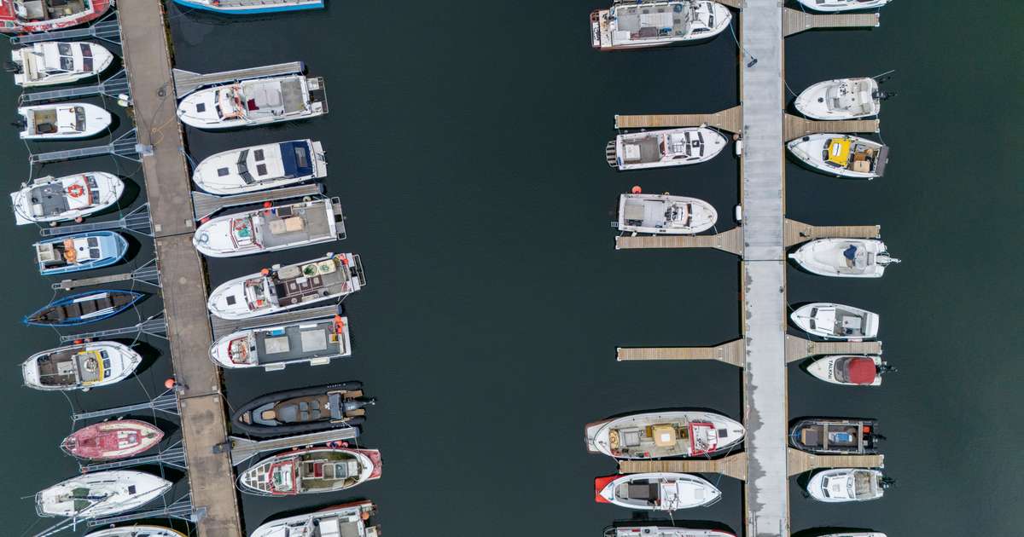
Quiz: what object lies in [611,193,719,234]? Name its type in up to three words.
boat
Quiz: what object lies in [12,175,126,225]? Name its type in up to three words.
boat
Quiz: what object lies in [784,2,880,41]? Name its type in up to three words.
pier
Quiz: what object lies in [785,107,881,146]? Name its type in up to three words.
pier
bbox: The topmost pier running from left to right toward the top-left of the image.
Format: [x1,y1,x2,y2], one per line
[10,10,122,44]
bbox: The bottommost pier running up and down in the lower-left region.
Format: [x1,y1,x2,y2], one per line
[176,392,242,537]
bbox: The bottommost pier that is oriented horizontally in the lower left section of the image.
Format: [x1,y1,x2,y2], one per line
[89,494,193,528]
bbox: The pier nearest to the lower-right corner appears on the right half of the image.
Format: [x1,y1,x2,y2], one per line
[788,443,885,482]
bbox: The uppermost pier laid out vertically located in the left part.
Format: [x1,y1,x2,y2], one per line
[116,0,195,236]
